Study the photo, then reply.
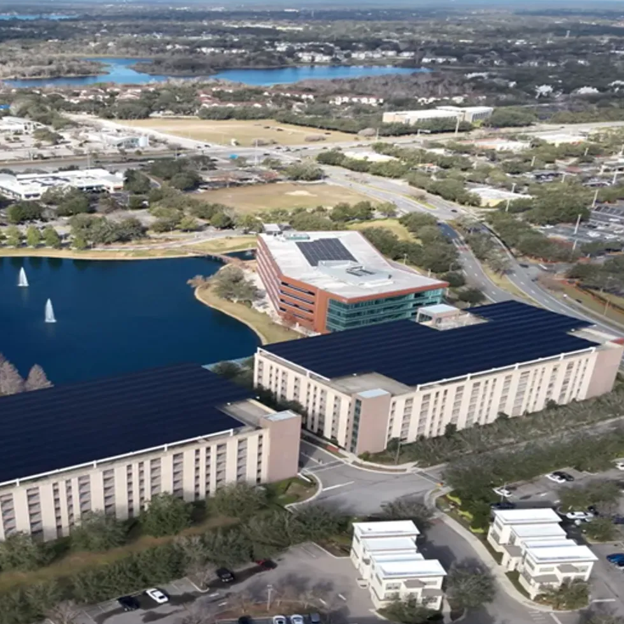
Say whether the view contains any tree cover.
Yes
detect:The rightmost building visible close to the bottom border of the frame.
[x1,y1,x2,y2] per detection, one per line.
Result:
[490,507,598,598]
